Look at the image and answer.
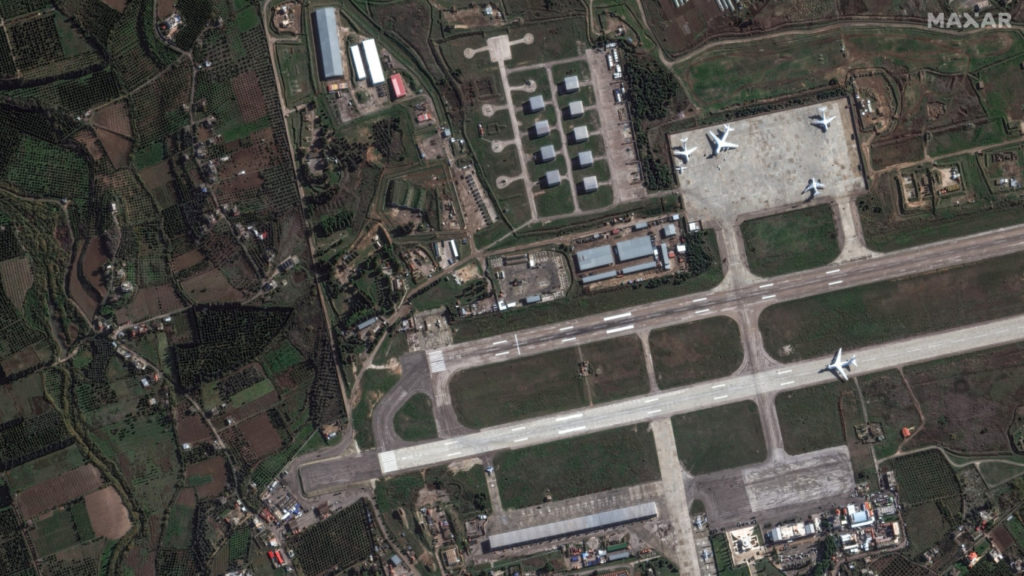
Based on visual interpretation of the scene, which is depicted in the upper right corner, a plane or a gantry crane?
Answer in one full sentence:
What appears in the upper right corner is a plane.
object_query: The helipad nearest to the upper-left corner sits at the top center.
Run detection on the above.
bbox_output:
[464,46,489,58]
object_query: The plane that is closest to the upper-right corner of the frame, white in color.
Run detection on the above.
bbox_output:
[811,104,837,132]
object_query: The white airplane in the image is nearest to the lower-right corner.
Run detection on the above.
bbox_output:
[825,346,858,378]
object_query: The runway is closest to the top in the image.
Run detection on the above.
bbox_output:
[428,226,1024,375]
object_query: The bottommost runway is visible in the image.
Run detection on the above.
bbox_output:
[378,316,1024,476]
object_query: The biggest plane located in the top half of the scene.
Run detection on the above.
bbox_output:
[710,122,740,155]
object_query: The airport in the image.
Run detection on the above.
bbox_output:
[276,35,1024,576]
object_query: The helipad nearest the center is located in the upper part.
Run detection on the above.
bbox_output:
[498,174,526,187]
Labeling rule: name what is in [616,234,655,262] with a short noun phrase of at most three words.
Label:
hangar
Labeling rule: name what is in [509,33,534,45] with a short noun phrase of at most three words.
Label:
helipad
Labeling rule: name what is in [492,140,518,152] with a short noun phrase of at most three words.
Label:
helipad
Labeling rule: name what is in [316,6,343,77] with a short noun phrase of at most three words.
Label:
building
